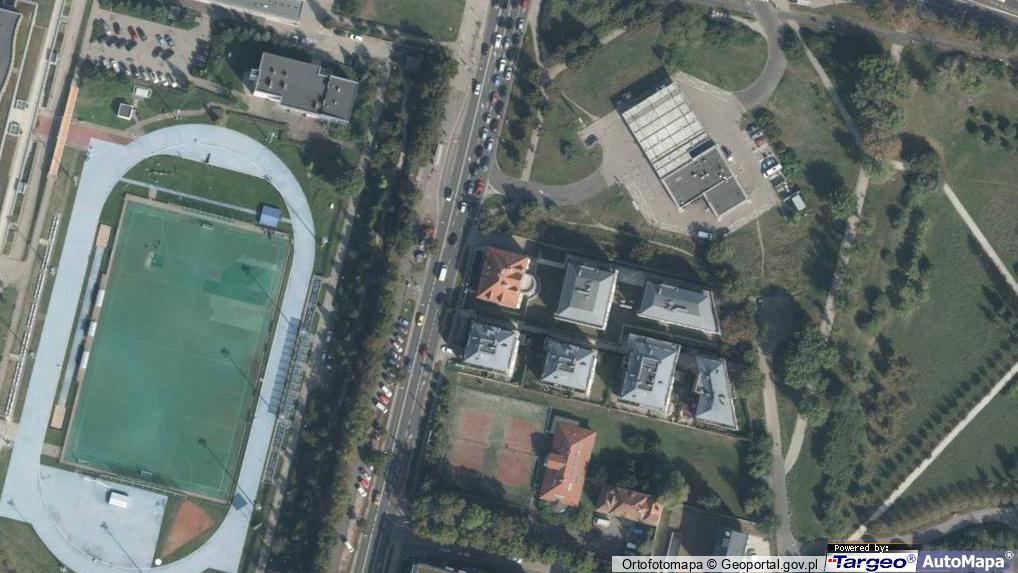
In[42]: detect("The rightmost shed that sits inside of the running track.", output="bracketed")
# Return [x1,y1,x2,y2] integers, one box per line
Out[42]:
[260,206,281,228]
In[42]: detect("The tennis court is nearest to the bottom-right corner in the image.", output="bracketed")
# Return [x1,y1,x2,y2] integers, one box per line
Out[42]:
[497,418,537,483]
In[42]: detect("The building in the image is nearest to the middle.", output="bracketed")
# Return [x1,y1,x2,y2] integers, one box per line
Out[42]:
[477,248,549,310]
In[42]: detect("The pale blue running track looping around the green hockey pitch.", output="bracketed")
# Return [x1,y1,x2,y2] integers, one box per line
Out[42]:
[0,123,315,573]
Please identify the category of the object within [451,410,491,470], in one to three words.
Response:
tennis court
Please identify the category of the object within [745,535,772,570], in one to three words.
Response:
building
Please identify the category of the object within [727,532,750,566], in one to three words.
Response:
shed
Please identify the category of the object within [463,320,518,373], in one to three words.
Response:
house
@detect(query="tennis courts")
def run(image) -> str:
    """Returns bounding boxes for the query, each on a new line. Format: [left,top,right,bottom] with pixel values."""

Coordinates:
[451,410,491,470]
[497,418,537,483]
